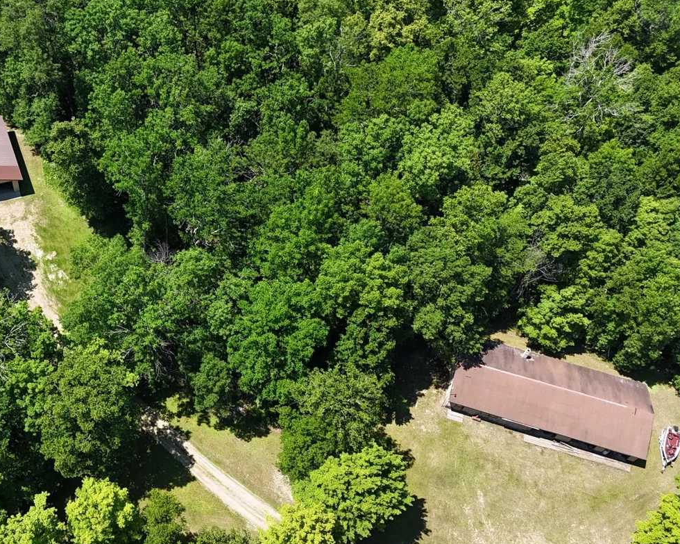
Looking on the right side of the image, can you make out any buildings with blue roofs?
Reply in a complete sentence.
No, looking on the right side of the image, there is no building with a blue roof.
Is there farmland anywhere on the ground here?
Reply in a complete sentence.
No, the picture contains no farmland.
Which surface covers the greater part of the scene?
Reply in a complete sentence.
Most of the picture is covered by trees.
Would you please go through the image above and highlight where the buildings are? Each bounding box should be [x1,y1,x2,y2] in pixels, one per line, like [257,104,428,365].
[0,119,23,203]
[448,338,654,461]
